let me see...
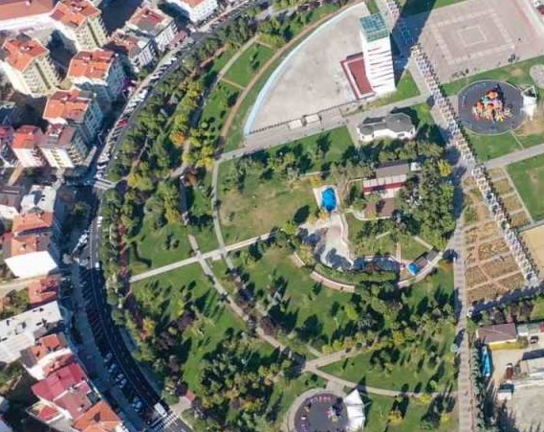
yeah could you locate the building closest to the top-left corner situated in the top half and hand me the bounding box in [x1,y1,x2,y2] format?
[0,0,57,32]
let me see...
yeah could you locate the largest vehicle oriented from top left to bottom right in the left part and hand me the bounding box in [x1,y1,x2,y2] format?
[149,395,167,420]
